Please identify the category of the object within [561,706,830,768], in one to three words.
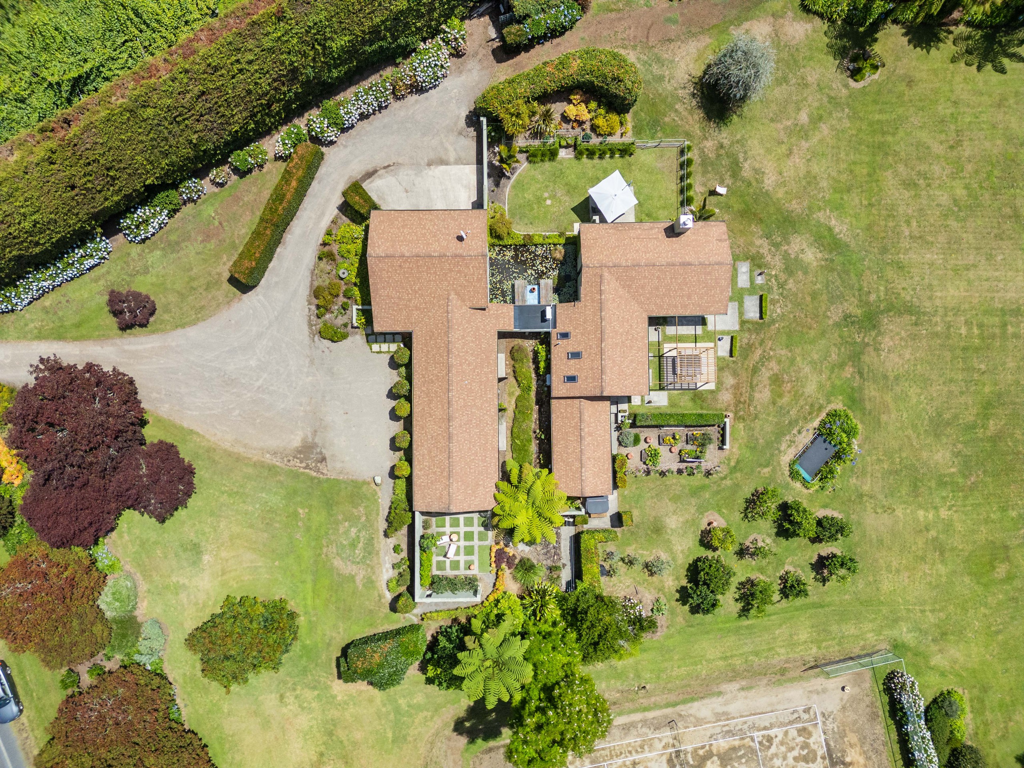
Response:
tennis court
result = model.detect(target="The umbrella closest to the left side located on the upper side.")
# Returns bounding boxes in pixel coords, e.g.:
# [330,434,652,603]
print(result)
[588,170,638,219]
